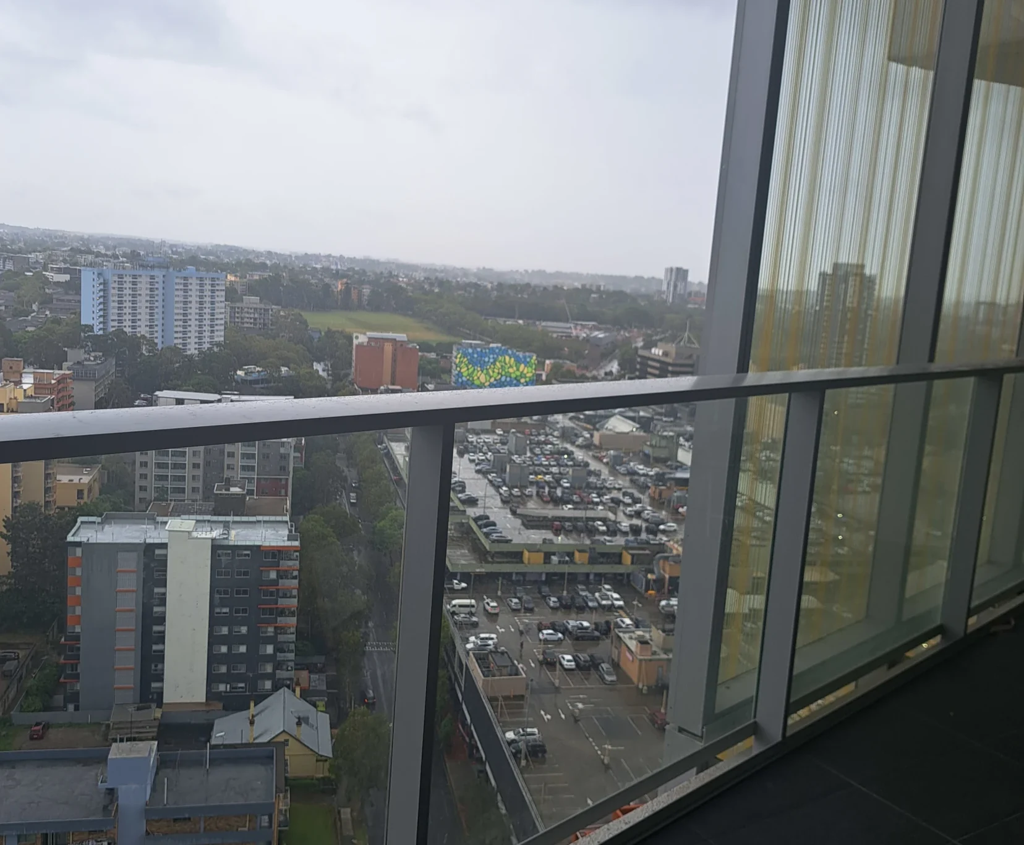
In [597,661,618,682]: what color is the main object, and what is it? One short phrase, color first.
gray car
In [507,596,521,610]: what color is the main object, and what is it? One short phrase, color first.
gray car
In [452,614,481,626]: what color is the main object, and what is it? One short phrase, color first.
gray vehicle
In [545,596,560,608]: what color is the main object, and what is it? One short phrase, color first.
gray vehicle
